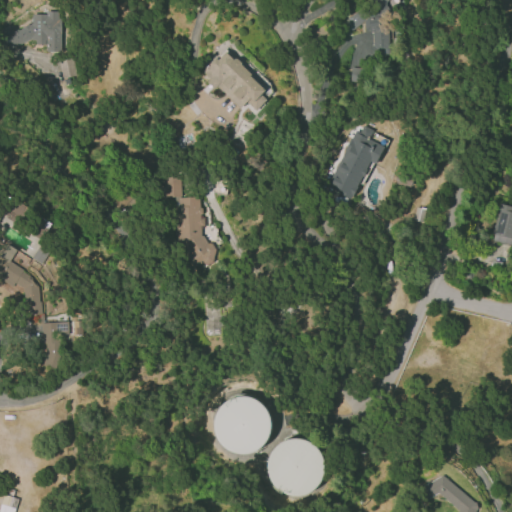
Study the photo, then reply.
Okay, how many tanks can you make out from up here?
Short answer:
2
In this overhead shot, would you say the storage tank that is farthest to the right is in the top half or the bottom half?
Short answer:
bottom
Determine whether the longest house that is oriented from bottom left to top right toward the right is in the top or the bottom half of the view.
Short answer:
top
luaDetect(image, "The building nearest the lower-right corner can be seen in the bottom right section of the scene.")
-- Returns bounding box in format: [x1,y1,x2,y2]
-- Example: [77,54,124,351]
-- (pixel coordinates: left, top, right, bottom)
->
[427,474,484,512]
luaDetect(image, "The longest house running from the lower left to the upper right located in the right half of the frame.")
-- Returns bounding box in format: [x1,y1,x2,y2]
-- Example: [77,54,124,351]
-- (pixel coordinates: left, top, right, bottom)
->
[331,124,392,196]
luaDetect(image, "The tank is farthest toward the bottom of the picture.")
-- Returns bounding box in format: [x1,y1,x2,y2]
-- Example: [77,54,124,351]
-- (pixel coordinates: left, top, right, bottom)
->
[268,438,324,496]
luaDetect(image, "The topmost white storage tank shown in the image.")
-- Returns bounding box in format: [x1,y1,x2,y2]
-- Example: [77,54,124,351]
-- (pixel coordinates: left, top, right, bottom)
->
[214,396,272,454]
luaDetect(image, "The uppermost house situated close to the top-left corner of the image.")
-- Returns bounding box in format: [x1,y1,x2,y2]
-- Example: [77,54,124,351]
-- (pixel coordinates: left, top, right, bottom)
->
[12,10,62,52]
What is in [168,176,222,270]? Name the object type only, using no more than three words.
house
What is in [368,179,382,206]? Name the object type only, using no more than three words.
swimming pool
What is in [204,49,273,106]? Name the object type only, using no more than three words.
house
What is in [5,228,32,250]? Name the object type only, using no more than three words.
swimming pool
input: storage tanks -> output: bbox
[214,396,272,454]
[268,438,324,496]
